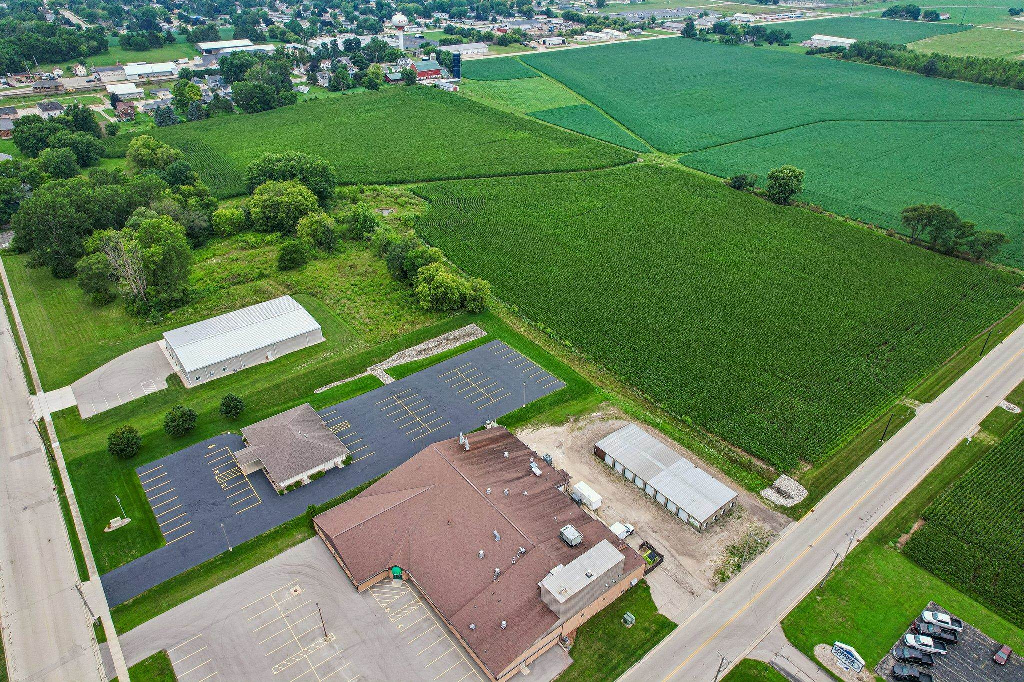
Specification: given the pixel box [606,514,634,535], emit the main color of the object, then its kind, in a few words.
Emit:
white truck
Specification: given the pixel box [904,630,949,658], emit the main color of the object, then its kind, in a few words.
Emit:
white truck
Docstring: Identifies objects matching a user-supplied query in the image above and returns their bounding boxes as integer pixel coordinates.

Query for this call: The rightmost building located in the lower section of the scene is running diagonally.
[594,422,740,531]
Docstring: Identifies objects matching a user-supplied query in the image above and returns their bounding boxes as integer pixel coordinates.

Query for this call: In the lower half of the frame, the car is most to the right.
[991,640,1017,668]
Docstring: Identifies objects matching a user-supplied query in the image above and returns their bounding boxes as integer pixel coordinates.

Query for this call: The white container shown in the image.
[571,475,605,510]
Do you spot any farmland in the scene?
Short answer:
Yes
